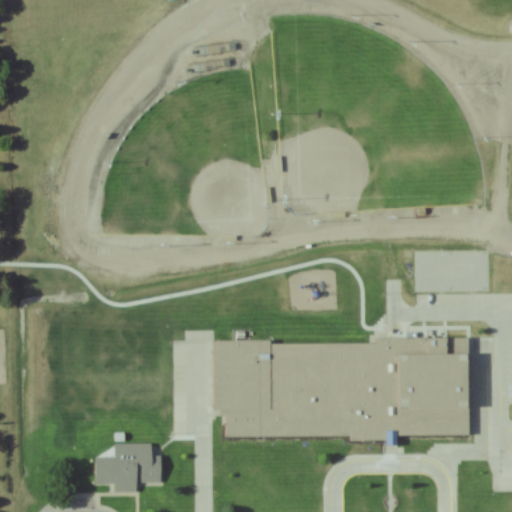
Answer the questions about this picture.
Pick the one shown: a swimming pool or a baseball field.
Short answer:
baseball field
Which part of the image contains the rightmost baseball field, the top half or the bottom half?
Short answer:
top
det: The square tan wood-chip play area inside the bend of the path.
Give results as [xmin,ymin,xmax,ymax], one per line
[290,270,338,310]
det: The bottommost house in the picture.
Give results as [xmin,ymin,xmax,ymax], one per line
[95,444,162,493]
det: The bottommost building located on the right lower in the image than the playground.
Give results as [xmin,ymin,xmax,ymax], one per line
[214,338,470,452]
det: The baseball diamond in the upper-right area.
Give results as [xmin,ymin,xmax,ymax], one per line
[271,16,484,215]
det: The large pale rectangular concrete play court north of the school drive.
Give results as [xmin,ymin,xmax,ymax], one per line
[414,250,488,292]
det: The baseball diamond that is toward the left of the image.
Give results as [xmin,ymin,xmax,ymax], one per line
[102,66,267,237]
